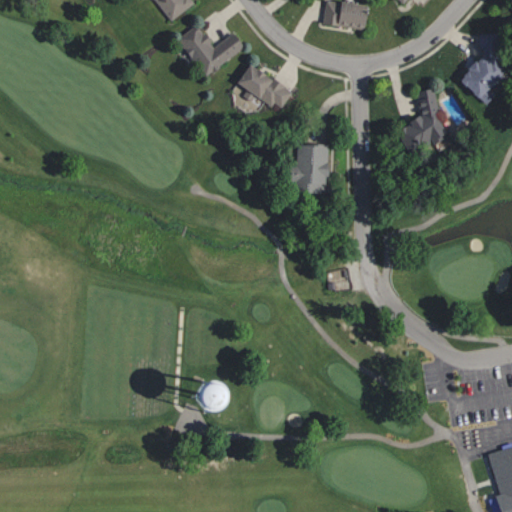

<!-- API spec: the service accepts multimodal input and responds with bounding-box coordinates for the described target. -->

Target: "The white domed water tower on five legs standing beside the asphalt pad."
[191,378,232,414]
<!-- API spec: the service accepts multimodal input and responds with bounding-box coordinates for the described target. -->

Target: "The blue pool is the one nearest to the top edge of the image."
[438,93,469,128]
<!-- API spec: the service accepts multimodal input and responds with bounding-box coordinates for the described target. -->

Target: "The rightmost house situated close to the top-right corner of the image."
[460,59,502,106]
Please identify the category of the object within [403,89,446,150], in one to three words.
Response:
house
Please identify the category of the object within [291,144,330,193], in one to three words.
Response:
house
